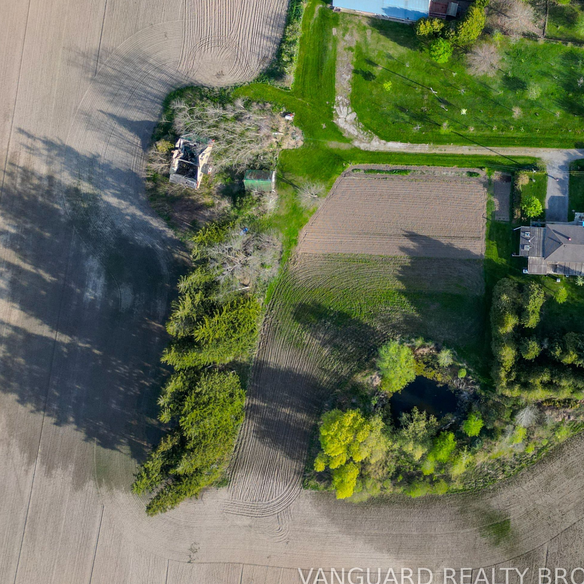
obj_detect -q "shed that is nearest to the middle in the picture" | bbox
[244,169,277,192]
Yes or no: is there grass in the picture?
Yes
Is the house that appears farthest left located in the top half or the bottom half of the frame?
top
